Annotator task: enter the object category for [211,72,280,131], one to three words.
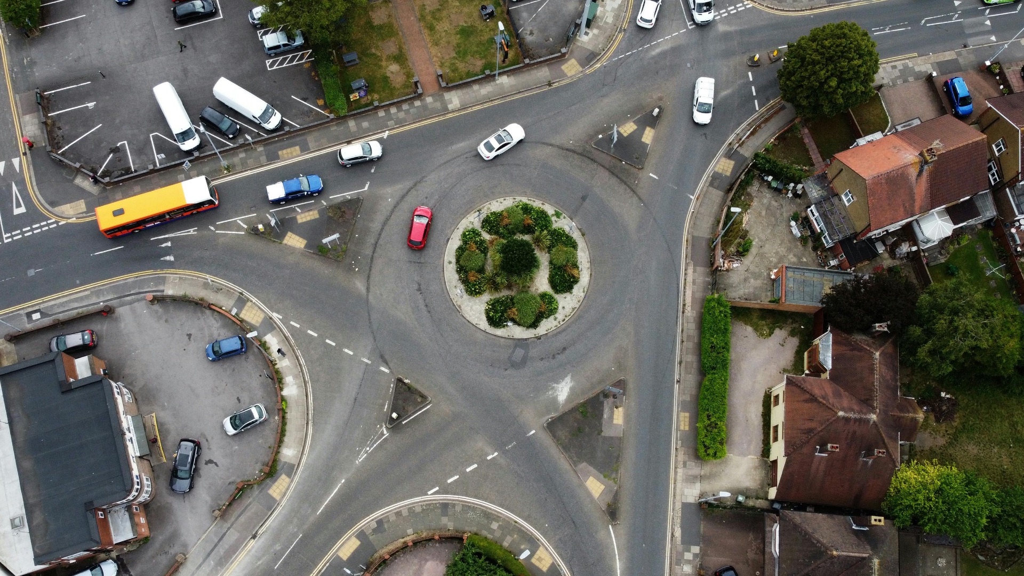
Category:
van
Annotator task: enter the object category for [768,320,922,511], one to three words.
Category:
house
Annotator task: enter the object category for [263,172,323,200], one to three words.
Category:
truck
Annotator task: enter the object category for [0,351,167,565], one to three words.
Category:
building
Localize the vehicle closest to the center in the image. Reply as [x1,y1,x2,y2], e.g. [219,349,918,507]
[407,205,432,248]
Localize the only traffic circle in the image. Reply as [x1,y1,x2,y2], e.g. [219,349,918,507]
[443,199,591,340]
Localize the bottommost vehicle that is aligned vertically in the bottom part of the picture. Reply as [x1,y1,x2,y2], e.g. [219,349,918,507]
[165,436,200,493]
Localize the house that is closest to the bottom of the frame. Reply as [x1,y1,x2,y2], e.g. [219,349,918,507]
[757,510,905,576]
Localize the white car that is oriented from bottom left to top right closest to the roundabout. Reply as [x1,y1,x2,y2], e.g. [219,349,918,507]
[478,121,526,159]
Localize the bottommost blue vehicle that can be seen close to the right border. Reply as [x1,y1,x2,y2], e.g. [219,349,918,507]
[948,74,978,113]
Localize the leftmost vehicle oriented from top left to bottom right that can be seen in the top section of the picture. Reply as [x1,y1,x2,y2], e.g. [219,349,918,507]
[145,79,197,150]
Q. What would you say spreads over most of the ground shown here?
paved ground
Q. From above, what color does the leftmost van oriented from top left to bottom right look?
white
